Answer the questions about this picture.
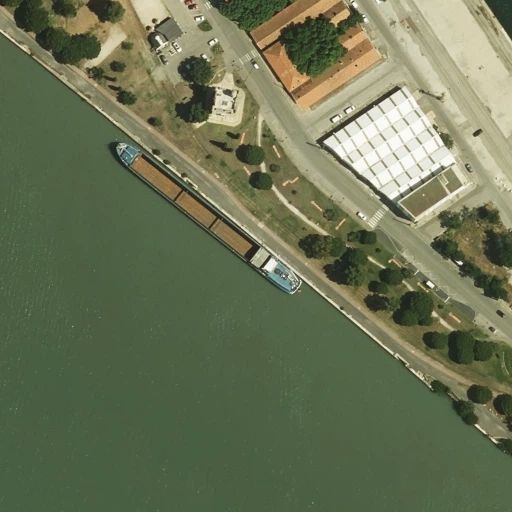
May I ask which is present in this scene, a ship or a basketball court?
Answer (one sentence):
This aerial view contains a ship.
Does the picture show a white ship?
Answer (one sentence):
No, there isn't any white ship down there.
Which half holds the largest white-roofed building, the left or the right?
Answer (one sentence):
You can find the largest white-roofed building on the right side of the picture.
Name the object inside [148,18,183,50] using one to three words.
building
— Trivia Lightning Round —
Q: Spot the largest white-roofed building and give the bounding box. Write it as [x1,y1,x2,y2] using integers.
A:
[322,88,454,200]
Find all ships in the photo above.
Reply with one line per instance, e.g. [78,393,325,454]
[117,142,303,295]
